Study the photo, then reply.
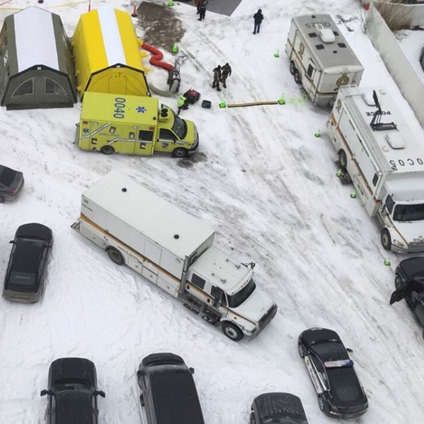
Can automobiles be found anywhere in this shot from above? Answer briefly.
Yes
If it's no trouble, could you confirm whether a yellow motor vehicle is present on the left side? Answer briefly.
Yes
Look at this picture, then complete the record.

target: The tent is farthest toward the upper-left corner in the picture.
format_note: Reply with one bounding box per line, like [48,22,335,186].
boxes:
[0,2,77,112]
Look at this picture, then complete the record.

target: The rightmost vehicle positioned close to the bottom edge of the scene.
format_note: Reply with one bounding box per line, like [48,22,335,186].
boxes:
[302,325,369,422]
